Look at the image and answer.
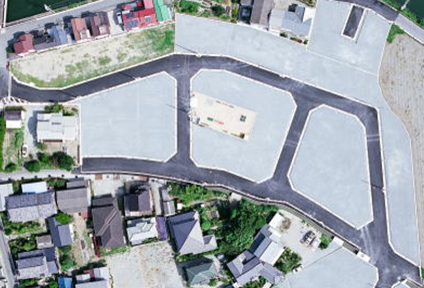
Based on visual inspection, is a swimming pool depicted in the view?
No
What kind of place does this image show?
residential area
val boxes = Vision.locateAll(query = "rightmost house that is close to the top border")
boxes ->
[270,7,312,36]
